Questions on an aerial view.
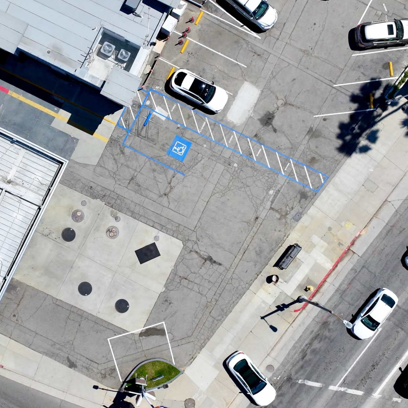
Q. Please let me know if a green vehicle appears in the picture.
No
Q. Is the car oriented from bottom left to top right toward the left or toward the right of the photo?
right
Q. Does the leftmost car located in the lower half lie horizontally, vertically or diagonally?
diagonally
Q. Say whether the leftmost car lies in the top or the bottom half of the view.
top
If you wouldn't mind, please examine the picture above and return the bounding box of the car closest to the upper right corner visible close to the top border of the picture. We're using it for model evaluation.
[357,17,408,48]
